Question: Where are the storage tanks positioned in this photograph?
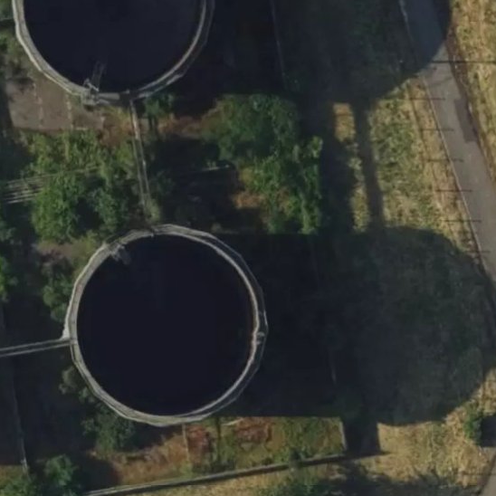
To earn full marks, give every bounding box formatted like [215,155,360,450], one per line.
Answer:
[63,225,266,424]
[14,0,212,106]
